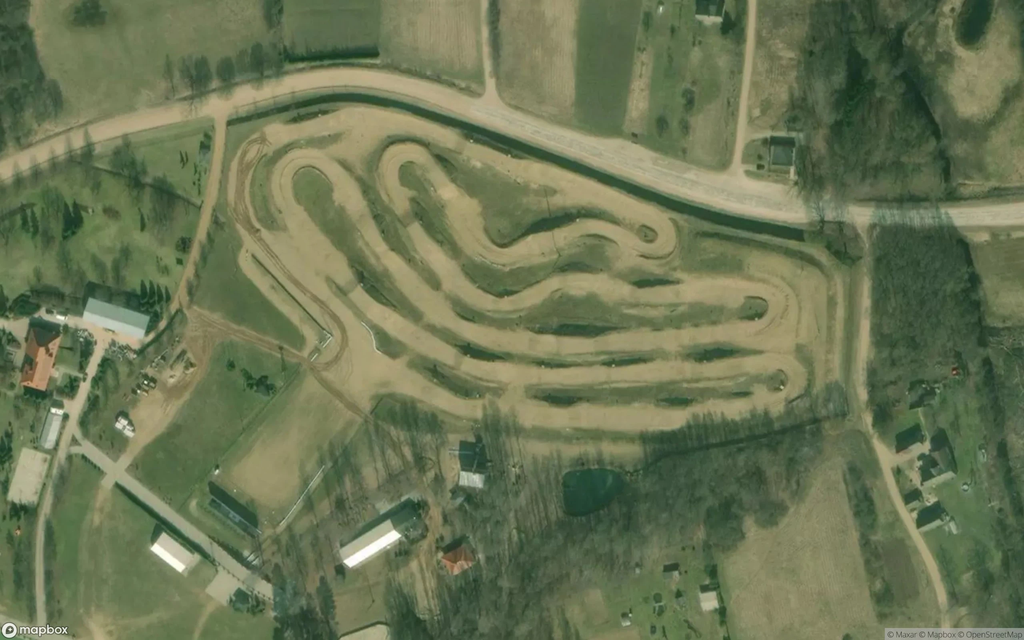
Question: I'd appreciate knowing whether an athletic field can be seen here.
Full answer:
Yes, this view includes an athletic field.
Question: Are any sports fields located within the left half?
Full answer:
Yes, a sports field appears within the left half.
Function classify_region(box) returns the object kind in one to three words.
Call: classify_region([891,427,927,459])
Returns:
house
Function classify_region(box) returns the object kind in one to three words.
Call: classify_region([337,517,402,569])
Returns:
barn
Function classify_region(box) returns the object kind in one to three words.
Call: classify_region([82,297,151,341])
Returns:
barn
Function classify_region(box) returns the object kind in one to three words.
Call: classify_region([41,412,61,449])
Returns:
shed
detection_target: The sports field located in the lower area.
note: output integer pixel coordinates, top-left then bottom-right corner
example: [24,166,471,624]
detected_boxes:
[218,368,366,531]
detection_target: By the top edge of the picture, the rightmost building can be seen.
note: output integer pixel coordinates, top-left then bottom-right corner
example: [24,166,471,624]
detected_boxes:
[694,0,725,30]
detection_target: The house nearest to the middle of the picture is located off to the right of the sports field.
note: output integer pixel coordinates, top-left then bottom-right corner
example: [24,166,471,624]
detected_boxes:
[459,447,488,488]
